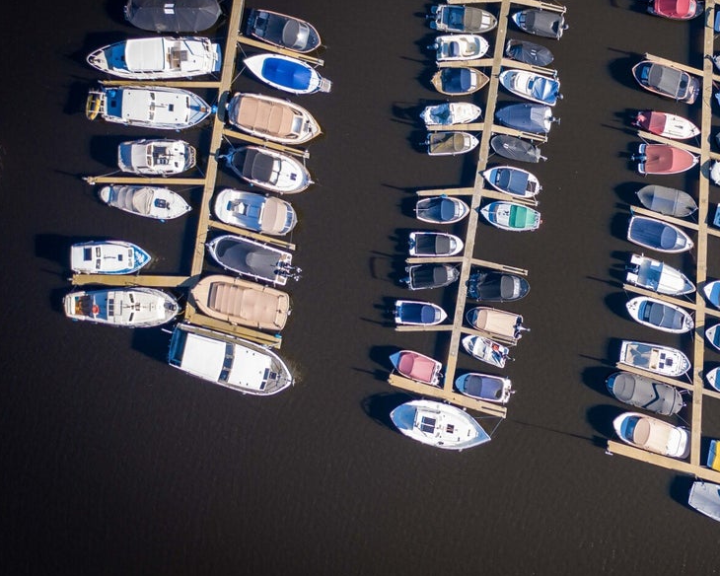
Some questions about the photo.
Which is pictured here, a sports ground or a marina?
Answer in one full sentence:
The picture captures a marina.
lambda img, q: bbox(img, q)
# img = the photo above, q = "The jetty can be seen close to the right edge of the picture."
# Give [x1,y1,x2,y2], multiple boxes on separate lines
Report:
[603,0,720,487]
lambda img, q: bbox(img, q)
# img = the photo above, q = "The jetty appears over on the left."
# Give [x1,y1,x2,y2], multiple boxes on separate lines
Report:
[61,0,328,350]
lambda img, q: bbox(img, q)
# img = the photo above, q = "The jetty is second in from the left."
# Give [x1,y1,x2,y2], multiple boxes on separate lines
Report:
[385,0,570,422]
